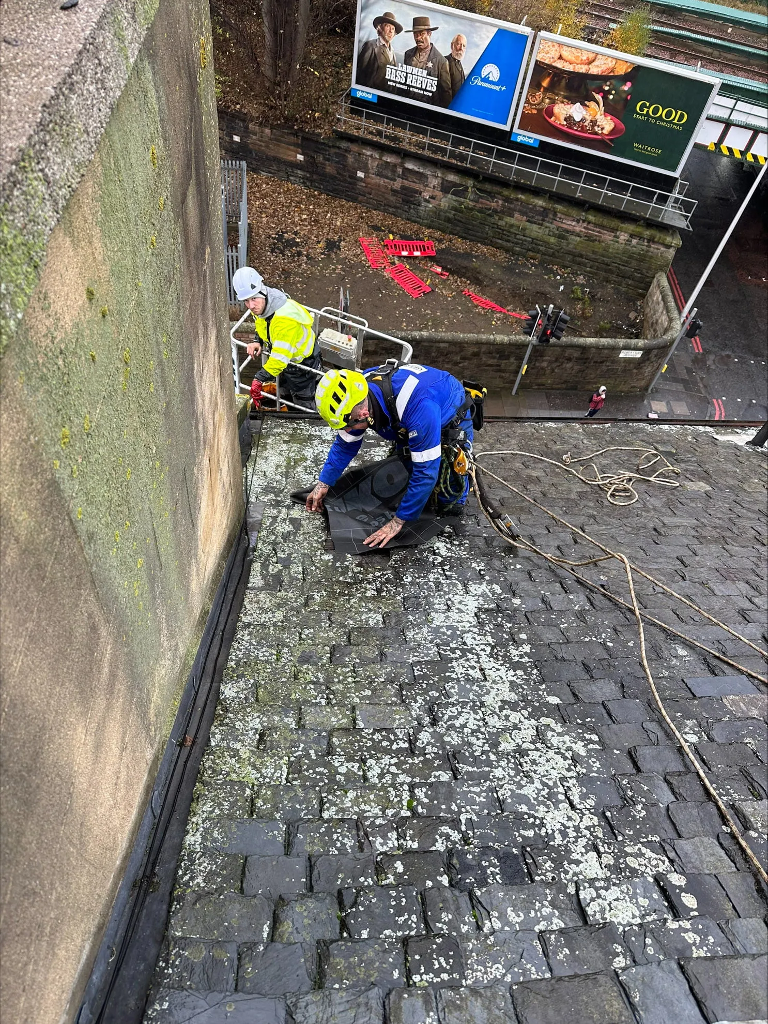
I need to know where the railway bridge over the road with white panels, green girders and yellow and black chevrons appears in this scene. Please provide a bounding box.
[527,0,768,277]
